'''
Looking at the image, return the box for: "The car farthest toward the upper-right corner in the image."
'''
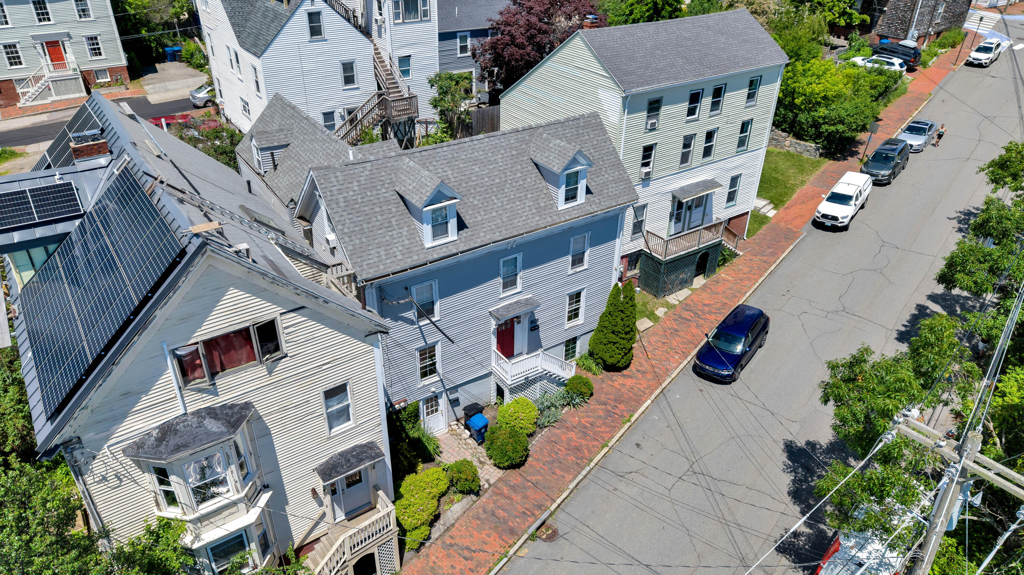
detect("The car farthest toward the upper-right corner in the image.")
[966,36,1003,67]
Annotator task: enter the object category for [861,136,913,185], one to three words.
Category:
car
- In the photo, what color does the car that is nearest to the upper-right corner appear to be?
white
